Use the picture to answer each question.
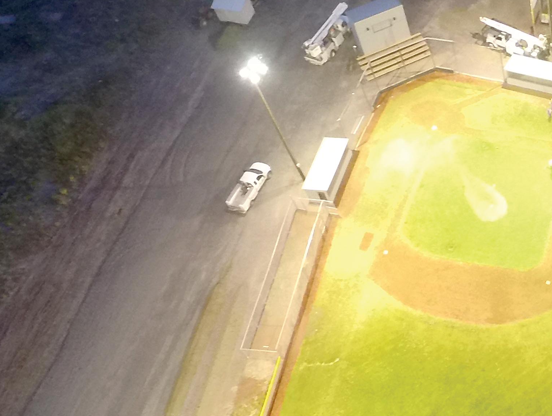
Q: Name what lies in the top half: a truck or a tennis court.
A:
truck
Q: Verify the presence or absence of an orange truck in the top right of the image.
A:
No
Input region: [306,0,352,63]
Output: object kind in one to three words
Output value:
truck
